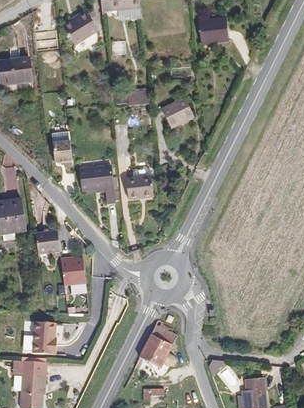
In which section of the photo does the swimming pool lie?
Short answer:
bottom right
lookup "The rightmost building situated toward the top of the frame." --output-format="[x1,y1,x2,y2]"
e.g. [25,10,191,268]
[197,16,230,44]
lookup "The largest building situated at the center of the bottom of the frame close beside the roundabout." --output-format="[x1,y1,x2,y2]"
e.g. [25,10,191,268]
[139,318,181,370]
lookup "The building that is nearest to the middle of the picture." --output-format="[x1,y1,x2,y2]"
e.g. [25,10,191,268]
[126,164,154,202]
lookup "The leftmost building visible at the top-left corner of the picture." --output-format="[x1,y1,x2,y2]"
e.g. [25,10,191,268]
[0,47,34,91]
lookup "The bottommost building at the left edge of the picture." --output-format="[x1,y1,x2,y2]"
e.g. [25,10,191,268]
[10,360,46,408]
